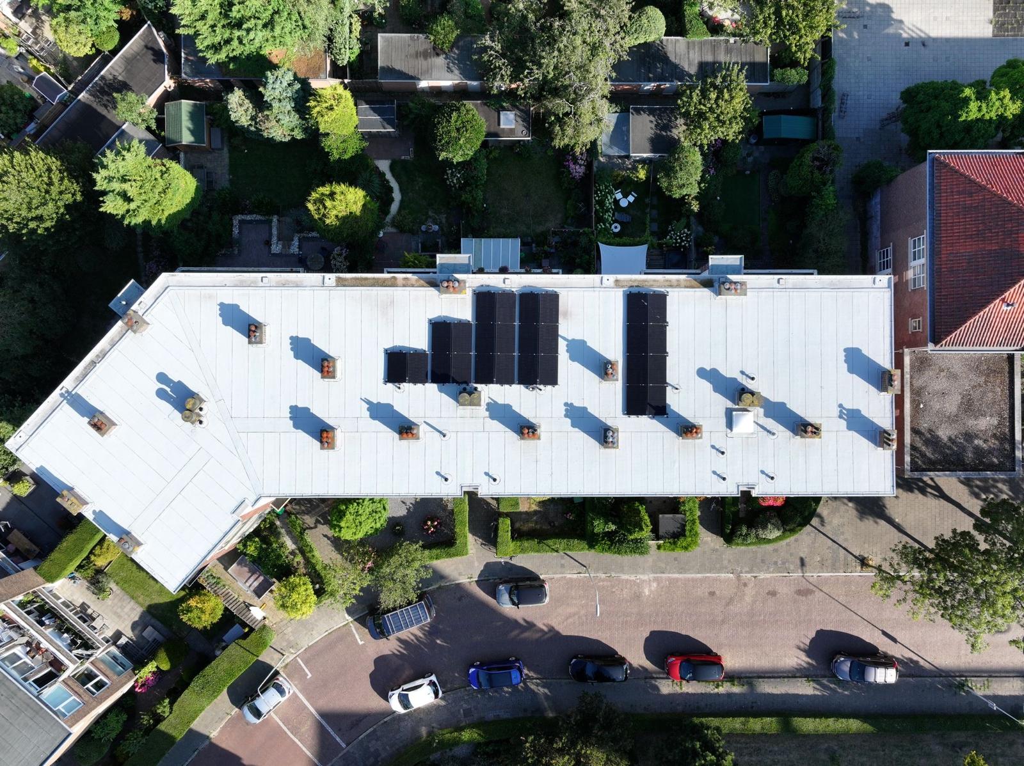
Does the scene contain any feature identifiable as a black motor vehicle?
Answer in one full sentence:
Yes, this view includes a black motor vehicle.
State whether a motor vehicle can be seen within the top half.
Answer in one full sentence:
No, no motor vehicle appears within the top half.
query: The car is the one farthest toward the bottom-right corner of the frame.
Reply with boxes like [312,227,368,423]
[829,651,899,686]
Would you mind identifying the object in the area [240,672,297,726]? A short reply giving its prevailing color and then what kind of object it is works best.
white car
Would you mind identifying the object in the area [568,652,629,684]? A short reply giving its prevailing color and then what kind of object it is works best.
black car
